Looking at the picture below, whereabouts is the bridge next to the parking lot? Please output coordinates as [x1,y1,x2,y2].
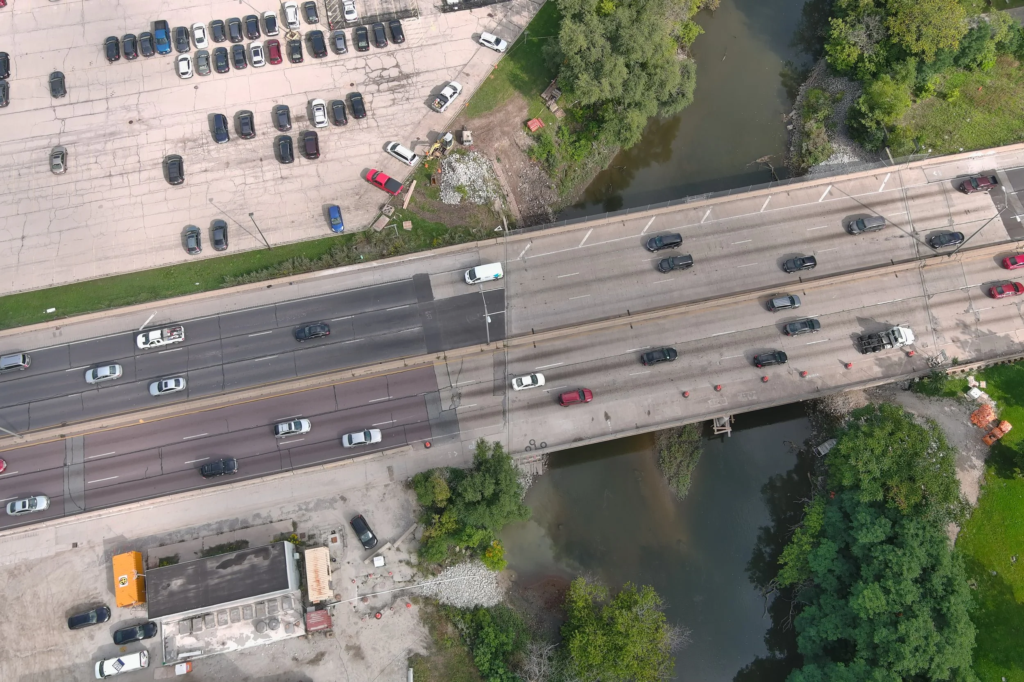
[501,165,946,463]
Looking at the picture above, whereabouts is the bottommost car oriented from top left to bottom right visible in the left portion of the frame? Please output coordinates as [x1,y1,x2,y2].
[347,512,379,551]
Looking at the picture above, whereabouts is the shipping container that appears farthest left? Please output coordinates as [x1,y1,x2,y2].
[113,551,147,609]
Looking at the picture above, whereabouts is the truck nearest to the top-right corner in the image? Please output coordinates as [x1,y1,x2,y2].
[957,174,1002,195]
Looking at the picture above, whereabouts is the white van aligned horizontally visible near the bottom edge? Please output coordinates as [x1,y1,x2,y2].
[95,649,154,682]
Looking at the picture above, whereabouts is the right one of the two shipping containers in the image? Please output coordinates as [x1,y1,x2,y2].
[305,547,334,603]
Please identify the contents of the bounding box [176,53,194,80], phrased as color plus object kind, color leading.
white car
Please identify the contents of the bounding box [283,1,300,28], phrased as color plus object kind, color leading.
white car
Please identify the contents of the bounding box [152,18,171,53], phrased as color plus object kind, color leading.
blue vehicle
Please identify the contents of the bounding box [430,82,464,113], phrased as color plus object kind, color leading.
white truck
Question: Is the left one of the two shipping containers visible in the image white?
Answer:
No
